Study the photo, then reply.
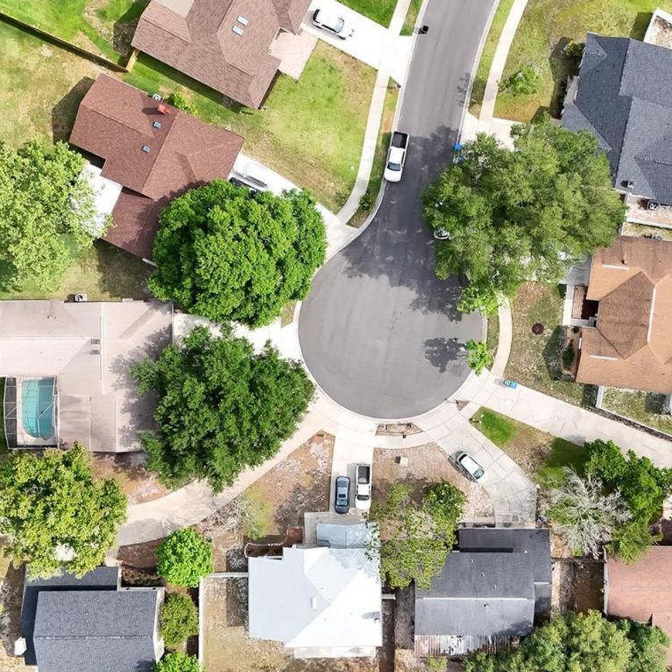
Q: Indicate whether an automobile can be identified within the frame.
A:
Yes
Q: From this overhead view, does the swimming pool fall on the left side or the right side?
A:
left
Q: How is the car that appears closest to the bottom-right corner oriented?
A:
on a diagonal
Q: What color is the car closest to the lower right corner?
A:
white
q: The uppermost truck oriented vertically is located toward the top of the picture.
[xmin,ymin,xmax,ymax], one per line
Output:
[384,130,406,182]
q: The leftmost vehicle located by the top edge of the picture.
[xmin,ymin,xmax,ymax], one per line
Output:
[308,7,349,38]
